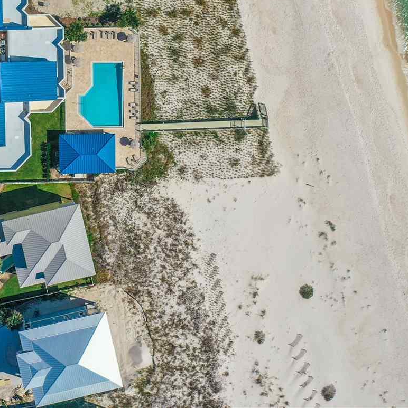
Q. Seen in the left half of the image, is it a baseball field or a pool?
pool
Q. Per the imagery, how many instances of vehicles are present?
zero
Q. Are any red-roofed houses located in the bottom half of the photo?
No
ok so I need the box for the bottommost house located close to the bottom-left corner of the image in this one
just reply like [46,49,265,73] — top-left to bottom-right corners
[16,301,123,408]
